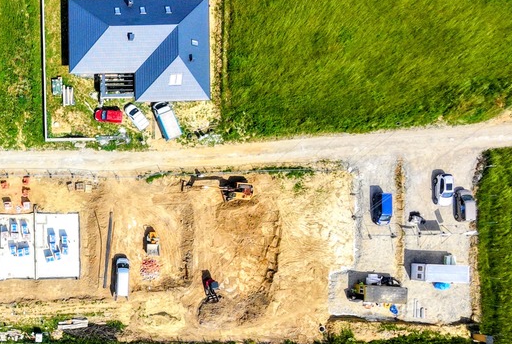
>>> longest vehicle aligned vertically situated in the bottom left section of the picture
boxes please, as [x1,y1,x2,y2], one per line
[114,256,130,299]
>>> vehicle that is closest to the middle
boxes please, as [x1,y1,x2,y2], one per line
[191,184,259,202]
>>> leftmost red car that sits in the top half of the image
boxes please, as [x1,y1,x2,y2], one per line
[94,108,124,123]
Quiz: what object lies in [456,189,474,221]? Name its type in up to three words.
car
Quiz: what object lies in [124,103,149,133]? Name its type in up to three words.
car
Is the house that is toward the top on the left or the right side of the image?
left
